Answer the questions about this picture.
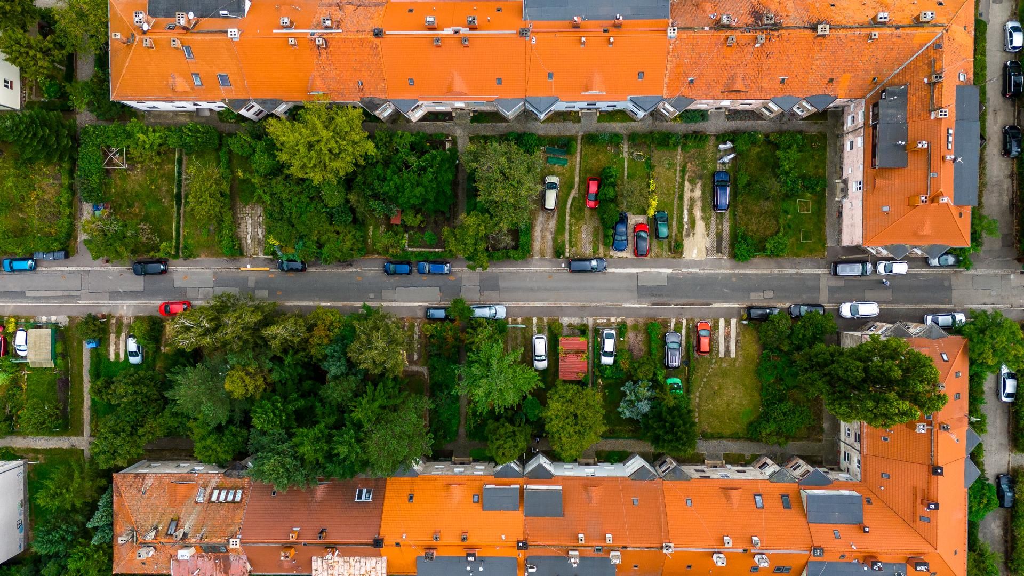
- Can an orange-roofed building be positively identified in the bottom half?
Yes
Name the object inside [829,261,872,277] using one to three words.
car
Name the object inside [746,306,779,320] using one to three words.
car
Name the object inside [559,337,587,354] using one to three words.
shed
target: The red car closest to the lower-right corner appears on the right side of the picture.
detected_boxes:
[696,320,712,355]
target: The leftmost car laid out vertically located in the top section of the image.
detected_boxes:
[543,175,559,211]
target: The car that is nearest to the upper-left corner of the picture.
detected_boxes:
[4,257,39,273]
